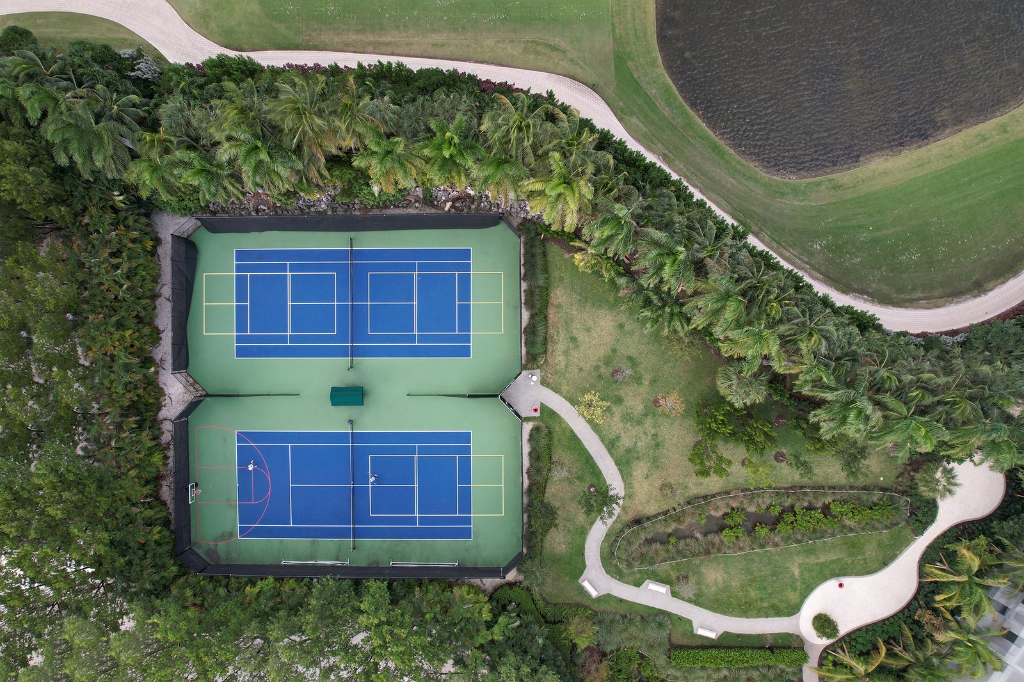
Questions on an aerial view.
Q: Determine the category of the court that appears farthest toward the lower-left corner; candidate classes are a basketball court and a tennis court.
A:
basketball court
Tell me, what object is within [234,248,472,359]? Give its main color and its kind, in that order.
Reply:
blue tennis court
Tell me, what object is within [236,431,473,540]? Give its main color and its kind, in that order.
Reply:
blue tennis court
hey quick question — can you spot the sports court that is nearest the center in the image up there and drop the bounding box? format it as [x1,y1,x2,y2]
[368,272,503,334]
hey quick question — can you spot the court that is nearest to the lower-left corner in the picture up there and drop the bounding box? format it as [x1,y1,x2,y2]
[196,426,272,545]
